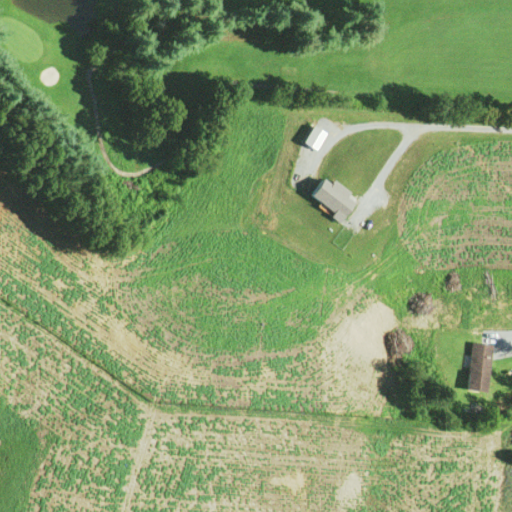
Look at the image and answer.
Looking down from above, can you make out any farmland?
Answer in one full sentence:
Yes, there is farmland in the image.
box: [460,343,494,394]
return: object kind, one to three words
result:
house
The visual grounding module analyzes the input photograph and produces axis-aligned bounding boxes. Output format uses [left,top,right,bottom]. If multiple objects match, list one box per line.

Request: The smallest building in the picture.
[305,125,329,150]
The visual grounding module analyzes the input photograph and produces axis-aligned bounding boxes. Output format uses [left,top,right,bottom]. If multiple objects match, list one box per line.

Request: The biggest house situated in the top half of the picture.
[312,179,358,228]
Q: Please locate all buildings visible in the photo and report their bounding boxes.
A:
[460,343,494,394]
[305,125,329,150]
[312,179,358,228]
